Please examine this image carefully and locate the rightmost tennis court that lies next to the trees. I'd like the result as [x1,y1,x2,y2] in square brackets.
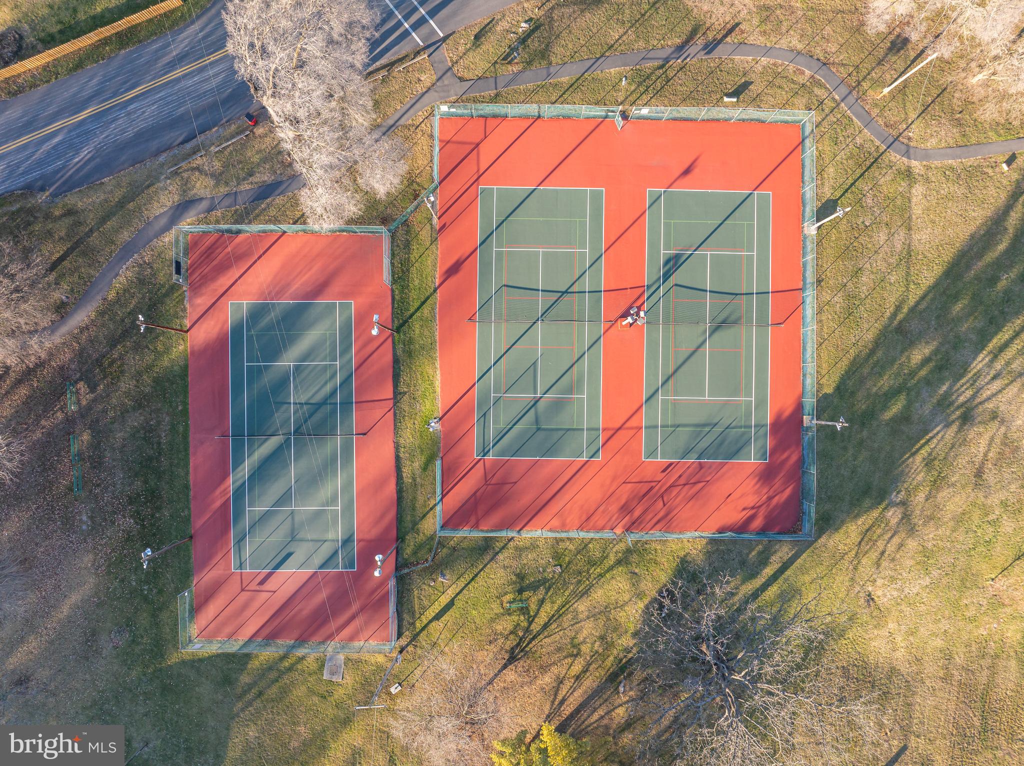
[618,120,802,531]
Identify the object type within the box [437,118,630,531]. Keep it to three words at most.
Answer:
tennis court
